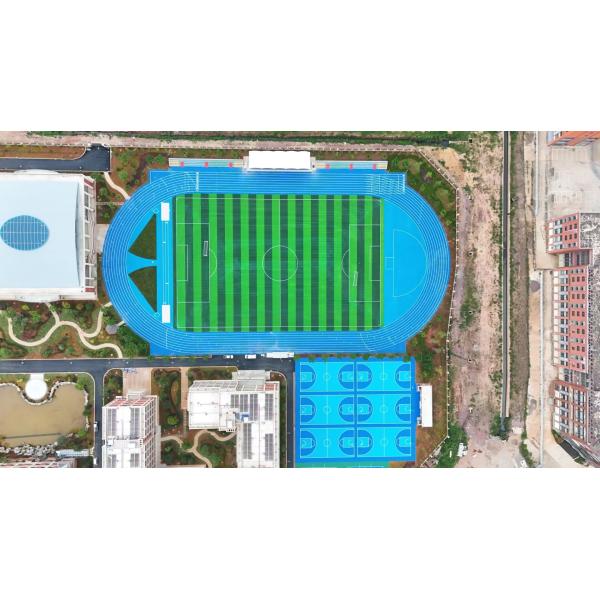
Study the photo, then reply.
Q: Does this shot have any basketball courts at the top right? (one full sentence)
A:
No, I can find no basketball court at the top right.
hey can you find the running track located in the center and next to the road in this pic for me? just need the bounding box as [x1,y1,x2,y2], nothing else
[101,167,449,357]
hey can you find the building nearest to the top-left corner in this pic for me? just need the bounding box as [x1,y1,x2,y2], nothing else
[0,169,98,302]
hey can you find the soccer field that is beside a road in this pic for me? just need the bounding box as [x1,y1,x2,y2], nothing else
[174,194,384,332]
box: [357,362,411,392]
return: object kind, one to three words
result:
basketball court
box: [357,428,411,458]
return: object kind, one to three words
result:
basketball court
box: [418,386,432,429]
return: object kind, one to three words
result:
building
